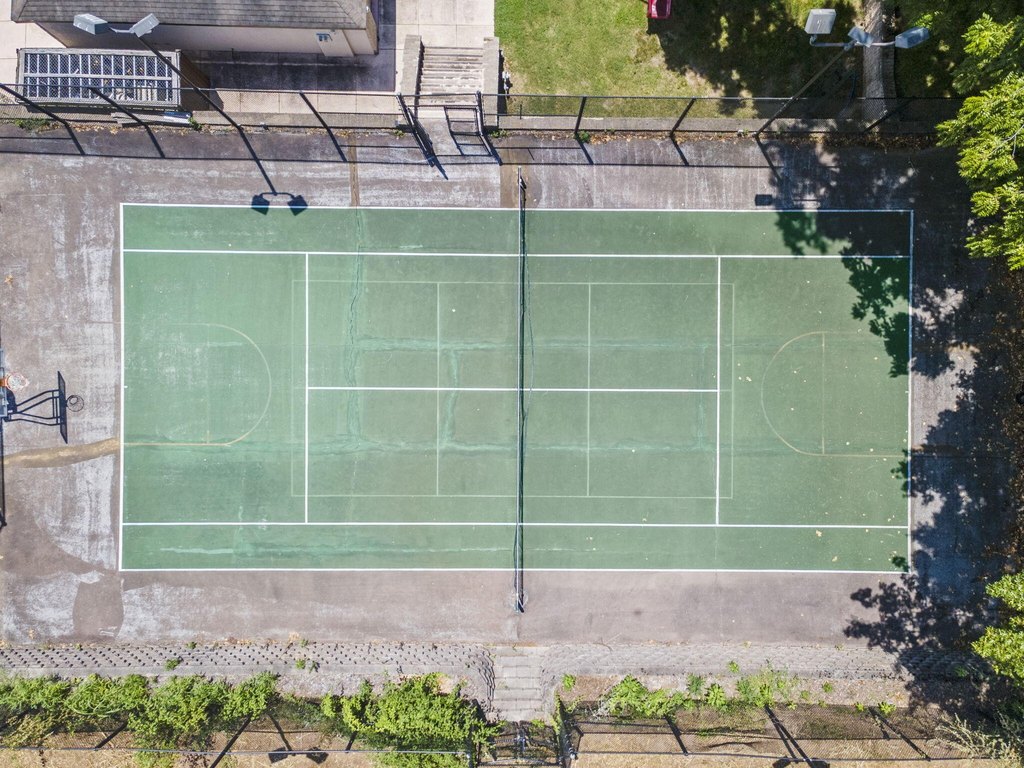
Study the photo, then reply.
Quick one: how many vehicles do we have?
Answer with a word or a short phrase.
0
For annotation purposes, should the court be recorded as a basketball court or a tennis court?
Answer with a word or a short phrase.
tennis court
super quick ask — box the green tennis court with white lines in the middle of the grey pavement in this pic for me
[119,202,913,574]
